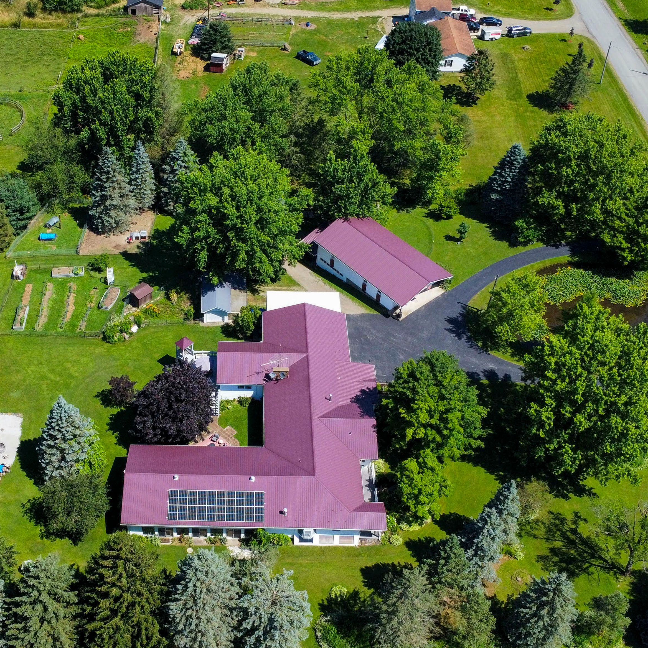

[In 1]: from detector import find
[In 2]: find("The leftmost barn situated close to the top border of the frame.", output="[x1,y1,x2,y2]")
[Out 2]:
[125,0,161,16]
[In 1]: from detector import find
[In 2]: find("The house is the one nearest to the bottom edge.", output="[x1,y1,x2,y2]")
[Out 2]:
[120,302,388,553]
